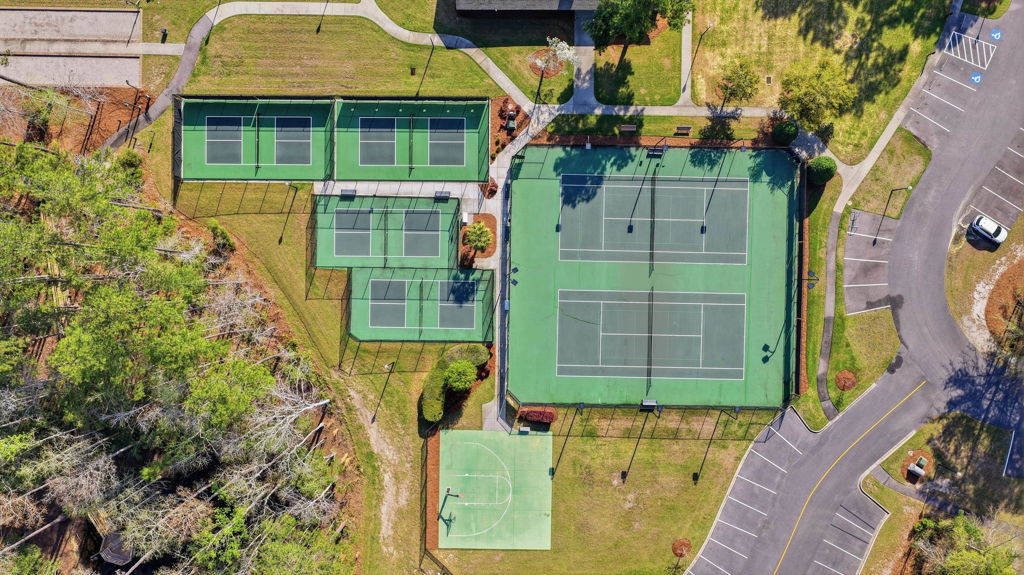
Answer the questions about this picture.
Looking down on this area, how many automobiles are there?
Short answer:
1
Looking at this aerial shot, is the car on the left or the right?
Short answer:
right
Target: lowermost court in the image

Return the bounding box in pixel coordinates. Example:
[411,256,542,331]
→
[439,430,552,550]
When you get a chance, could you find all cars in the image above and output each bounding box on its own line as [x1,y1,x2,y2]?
[972,214,1011,243]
